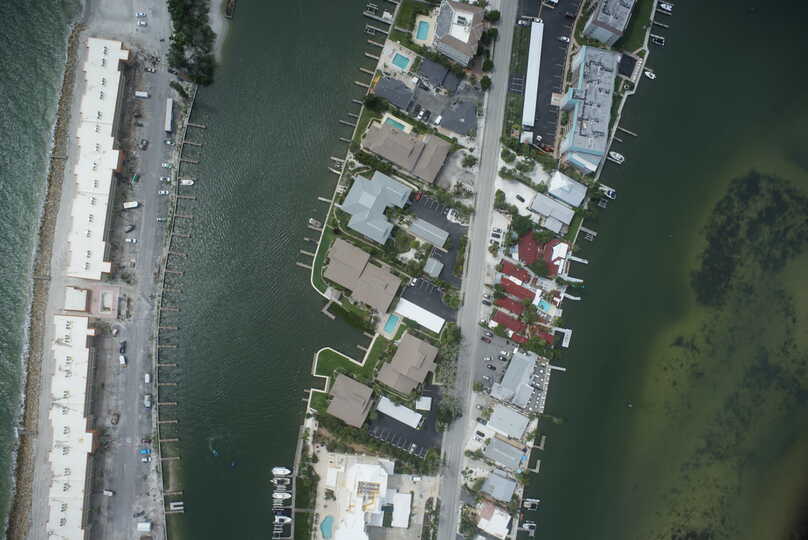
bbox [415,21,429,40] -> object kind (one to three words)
swimming pool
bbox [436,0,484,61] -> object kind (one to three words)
building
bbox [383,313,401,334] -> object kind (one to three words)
swimming pool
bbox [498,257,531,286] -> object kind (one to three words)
house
